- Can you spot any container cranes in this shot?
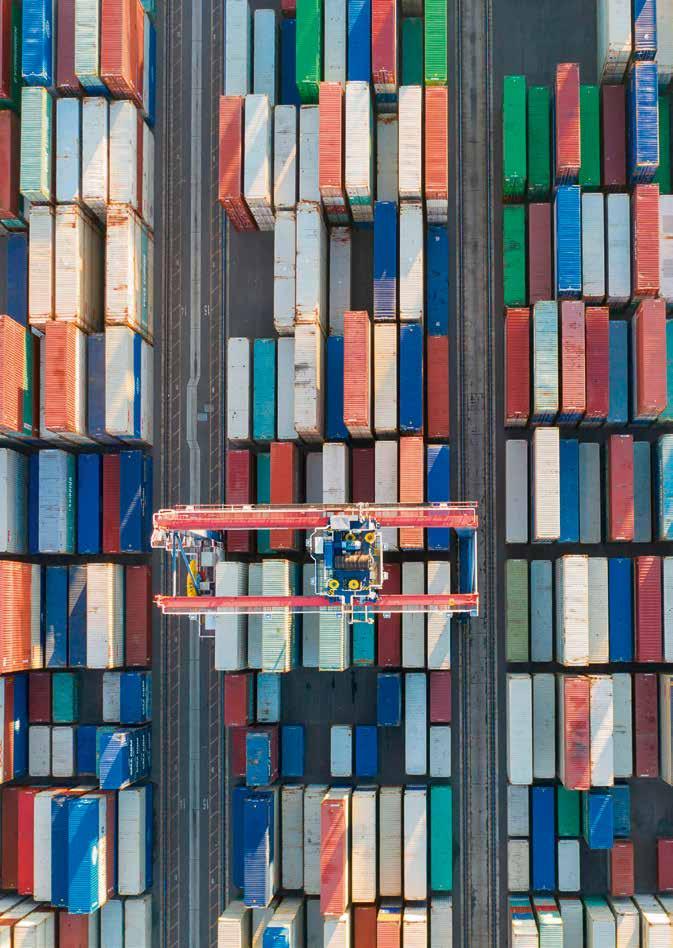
Yes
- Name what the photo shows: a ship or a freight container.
freight container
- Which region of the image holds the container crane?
center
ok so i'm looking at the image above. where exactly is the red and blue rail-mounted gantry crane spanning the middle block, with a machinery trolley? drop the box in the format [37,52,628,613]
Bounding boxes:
[150,499,480,639]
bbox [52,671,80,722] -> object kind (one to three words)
shipping container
